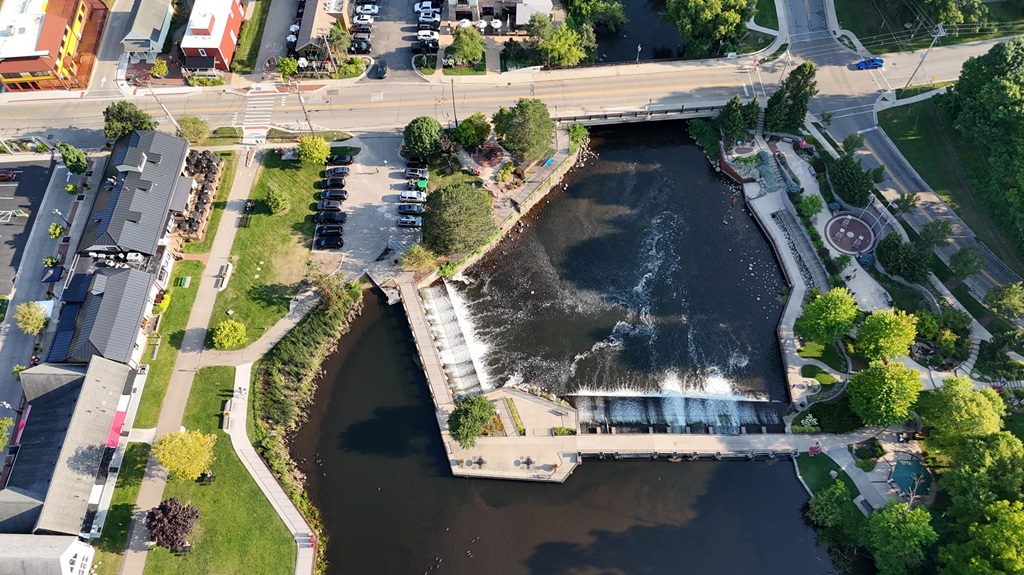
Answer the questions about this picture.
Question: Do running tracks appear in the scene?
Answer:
No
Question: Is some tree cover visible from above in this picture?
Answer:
Yes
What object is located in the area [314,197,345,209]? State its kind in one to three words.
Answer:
vehicle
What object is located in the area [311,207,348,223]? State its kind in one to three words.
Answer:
vehicle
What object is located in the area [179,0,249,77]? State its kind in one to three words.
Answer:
building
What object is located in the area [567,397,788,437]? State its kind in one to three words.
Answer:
dam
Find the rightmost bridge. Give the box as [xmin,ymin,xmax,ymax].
[546,51,764,125]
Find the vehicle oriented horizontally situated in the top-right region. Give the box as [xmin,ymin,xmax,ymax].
[858,56,886,69]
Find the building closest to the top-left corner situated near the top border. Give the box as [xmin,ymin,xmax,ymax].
[0,0,88,96]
